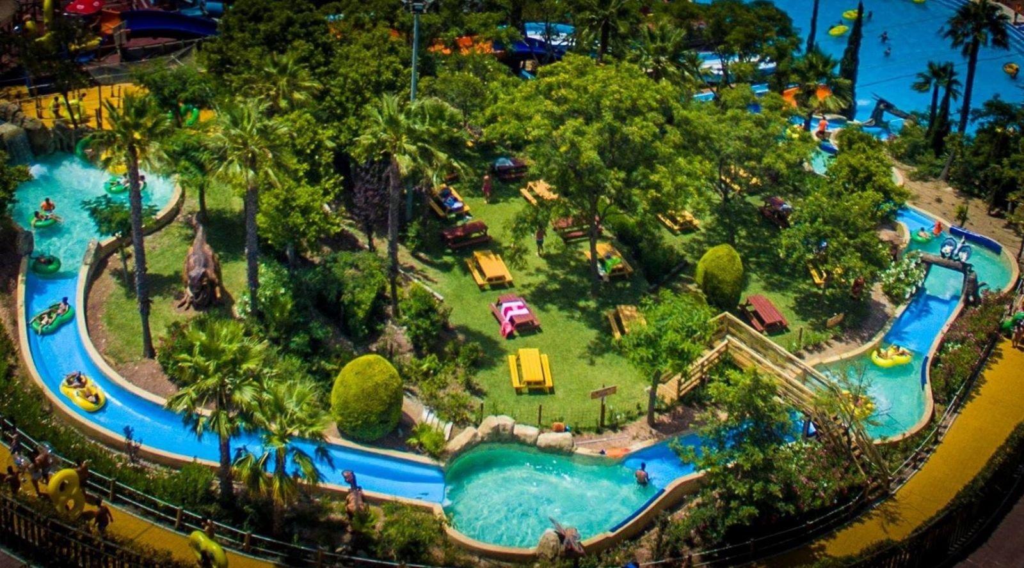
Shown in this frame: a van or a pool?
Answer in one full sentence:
The one in the frame is a pool.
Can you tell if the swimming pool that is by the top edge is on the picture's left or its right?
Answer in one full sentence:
It is on the right.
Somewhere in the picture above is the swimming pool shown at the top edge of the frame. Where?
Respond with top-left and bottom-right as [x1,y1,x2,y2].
[764,0,1024,164]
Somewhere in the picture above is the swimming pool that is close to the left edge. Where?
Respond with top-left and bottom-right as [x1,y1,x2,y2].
[0,153,191,284]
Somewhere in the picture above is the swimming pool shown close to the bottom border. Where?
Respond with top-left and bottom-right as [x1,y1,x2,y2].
[439,441,663,549]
